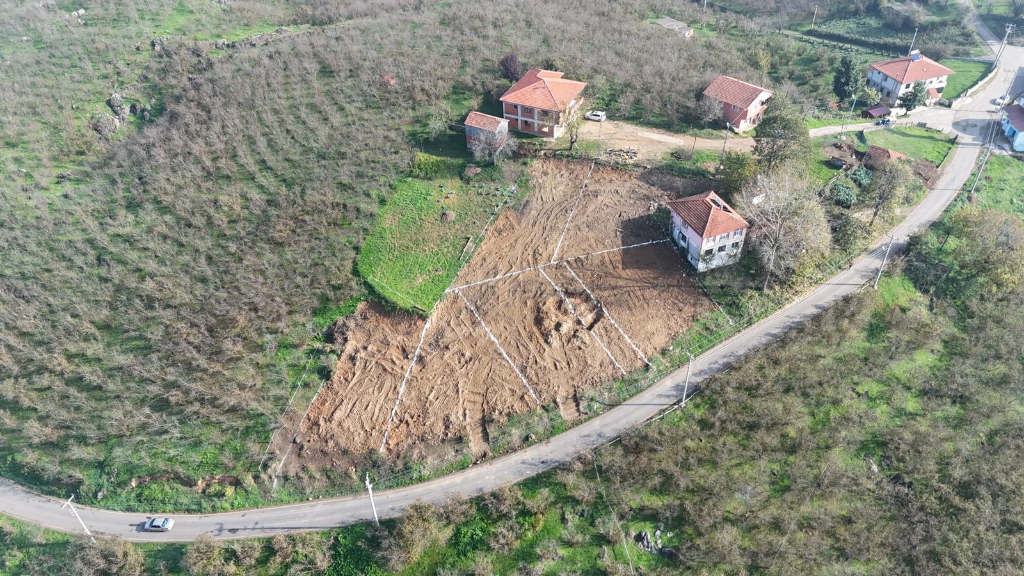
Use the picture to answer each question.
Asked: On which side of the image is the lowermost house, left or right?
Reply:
right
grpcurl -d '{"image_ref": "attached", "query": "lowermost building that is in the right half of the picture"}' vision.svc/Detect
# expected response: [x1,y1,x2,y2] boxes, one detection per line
[665,191,748,271]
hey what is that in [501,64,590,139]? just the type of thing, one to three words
house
